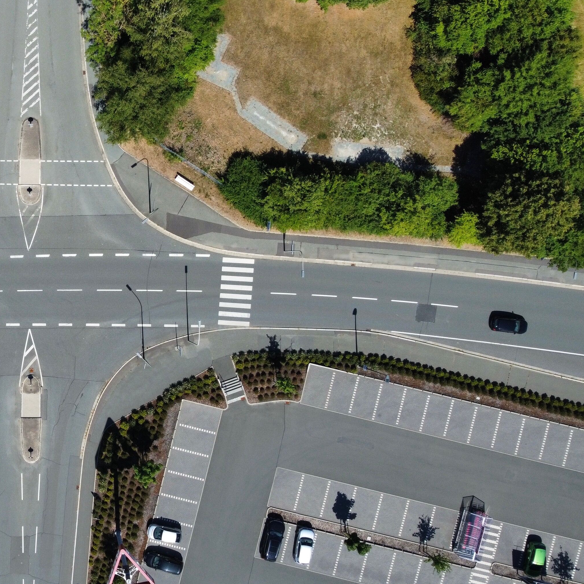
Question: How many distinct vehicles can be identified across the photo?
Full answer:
There are 6 vehicles in the image.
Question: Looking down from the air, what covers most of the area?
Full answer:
The bulk of the photo consists of paved ground.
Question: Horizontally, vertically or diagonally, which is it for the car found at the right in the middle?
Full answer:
The car found at the right in the middle runs horizontally in the image.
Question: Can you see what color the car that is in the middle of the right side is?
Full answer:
The car that is in the middle of the right side is black.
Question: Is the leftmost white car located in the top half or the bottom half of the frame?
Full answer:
It is in the bottom half that the leftmost white car appears.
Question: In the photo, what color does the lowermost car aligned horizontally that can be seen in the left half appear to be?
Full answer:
In this view, the lowermost car aligned horizontally that can be seen in the left half is black.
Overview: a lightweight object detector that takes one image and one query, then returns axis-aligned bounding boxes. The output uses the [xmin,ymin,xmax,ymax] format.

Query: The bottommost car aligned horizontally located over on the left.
[143,553,185,576]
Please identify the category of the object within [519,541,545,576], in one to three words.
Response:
car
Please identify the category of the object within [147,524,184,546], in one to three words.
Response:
car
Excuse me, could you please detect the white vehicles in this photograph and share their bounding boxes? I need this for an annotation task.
[294,524,317,565]
[147,524,184,546]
